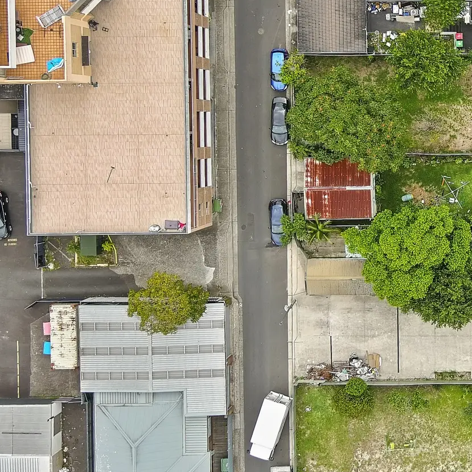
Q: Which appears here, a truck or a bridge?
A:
truck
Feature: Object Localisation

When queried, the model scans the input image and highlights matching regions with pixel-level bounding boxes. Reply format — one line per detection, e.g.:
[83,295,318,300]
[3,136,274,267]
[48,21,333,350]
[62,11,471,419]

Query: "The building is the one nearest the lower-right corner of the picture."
[304,257,379,297]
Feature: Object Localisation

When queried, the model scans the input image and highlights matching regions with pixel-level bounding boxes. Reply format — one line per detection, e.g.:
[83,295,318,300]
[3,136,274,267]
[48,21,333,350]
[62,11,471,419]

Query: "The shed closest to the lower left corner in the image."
[0,397,66,472]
